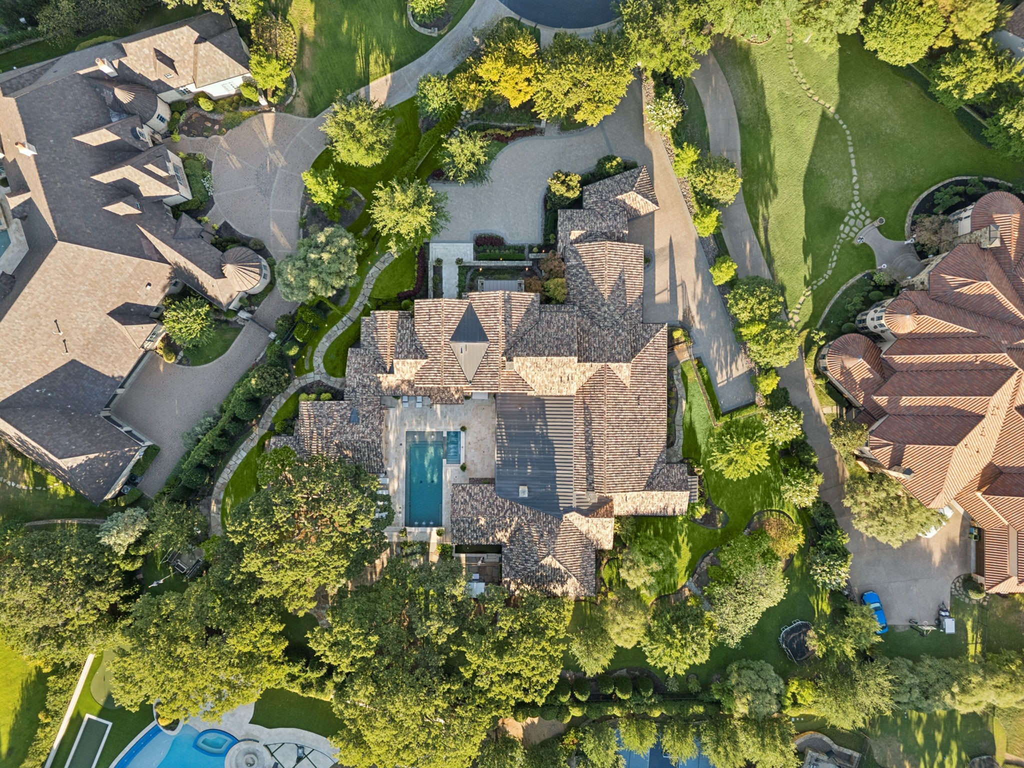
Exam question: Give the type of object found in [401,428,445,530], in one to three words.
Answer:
swimming pool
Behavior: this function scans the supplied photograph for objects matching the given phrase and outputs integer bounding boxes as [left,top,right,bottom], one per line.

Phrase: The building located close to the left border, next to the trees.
[0,12,271,506]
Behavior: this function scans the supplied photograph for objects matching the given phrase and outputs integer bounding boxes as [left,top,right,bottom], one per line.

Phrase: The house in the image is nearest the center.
[270,164,699,597]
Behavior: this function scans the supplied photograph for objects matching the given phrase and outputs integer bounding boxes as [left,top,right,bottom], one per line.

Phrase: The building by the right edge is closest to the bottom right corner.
[816,191,1024,594]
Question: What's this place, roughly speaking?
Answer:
residential area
